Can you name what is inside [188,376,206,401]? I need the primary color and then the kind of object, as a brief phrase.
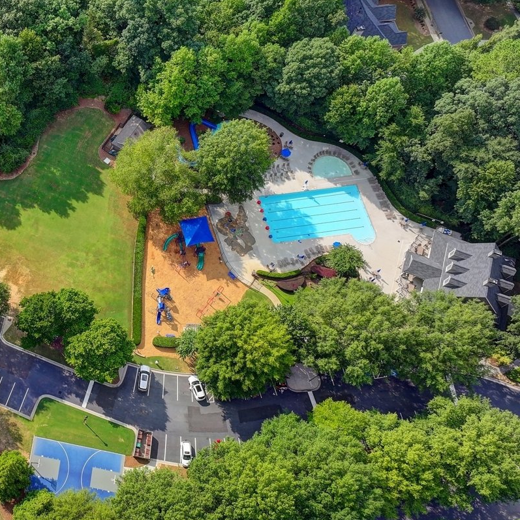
white car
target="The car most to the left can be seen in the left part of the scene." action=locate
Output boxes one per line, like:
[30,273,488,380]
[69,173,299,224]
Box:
[138,366,150,392]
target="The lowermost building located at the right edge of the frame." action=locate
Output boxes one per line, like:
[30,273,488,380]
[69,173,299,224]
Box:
[400,228,520,322]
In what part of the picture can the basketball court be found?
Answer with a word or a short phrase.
bottom left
